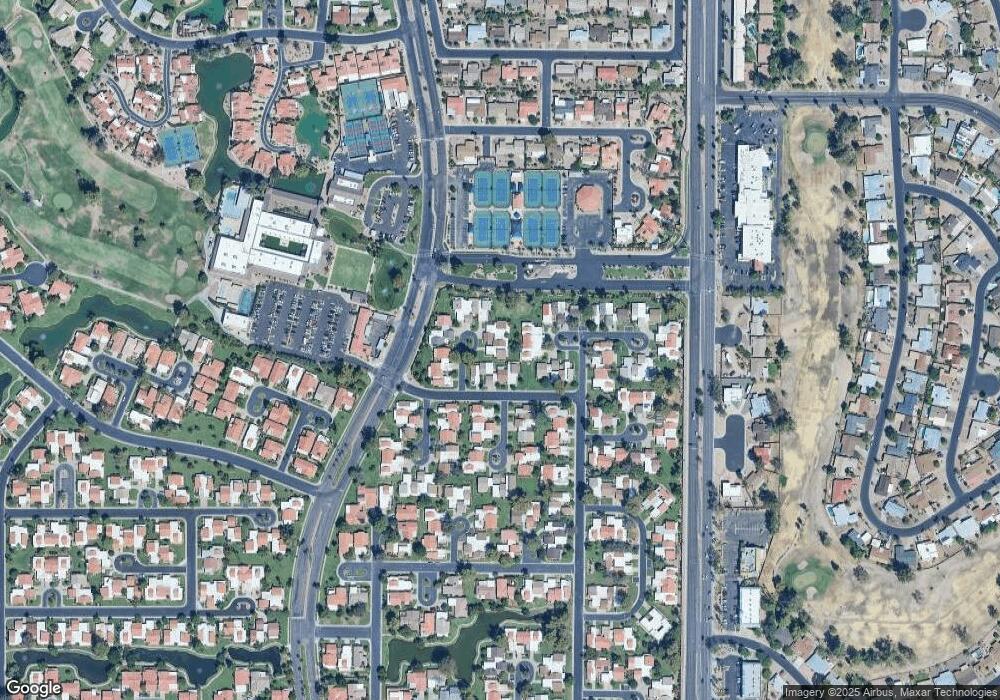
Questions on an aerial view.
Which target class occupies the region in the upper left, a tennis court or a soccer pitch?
tennis court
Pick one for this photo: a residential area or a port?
residential area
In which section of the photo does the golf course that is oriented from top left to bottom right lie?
top left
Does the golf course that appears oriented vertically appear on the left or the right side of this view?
right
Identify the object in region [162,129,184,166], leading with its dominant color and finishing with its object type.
blue tennis court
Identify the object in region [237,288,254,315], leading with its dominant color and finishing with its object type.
blue swimming pool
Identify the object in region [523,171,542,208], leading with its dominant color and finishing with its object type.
blue tennis court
